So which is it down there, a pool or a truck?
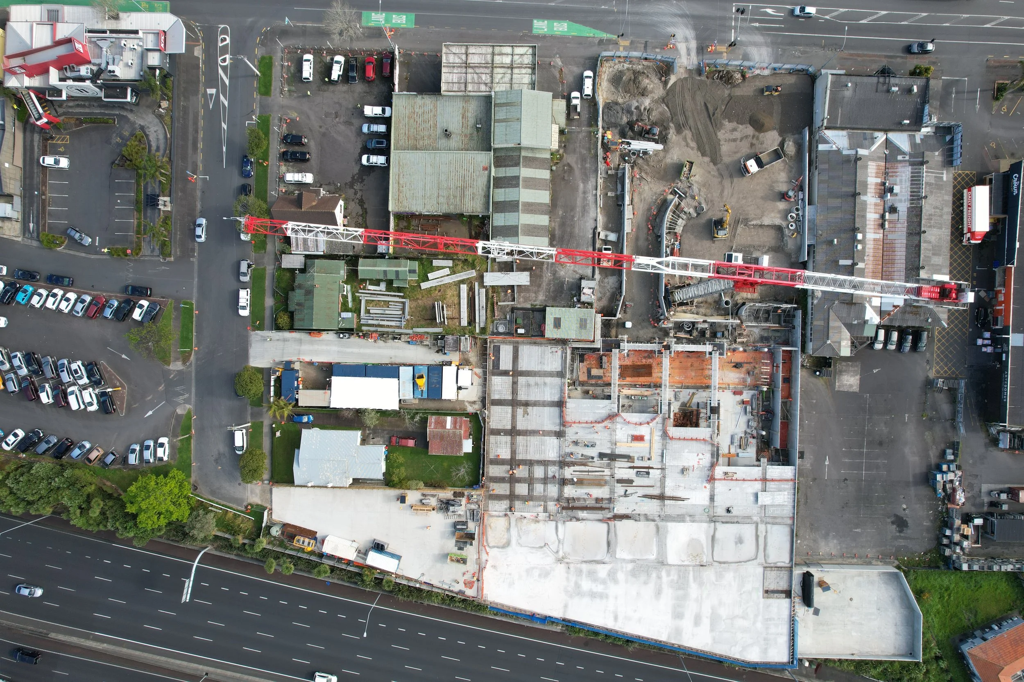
truck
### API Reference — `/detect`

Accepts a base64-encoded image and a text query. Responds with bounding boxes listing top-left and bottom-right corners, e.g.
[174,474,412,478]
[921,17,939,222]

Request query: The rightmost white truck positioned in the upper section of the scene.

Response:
[962,185,990,245]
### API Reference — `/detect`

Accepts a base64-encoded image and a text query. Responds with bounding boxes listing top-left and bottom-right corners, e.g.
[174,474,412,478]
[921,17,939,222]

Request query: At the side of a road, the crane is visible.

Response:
[230,216,985,312]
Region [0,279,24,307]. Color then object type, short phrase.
black vehicle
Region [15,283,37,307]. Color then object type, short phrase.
blue car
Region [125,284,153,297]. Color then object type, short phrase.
black vehicle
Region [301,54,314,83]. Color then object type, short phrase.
white vehicle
